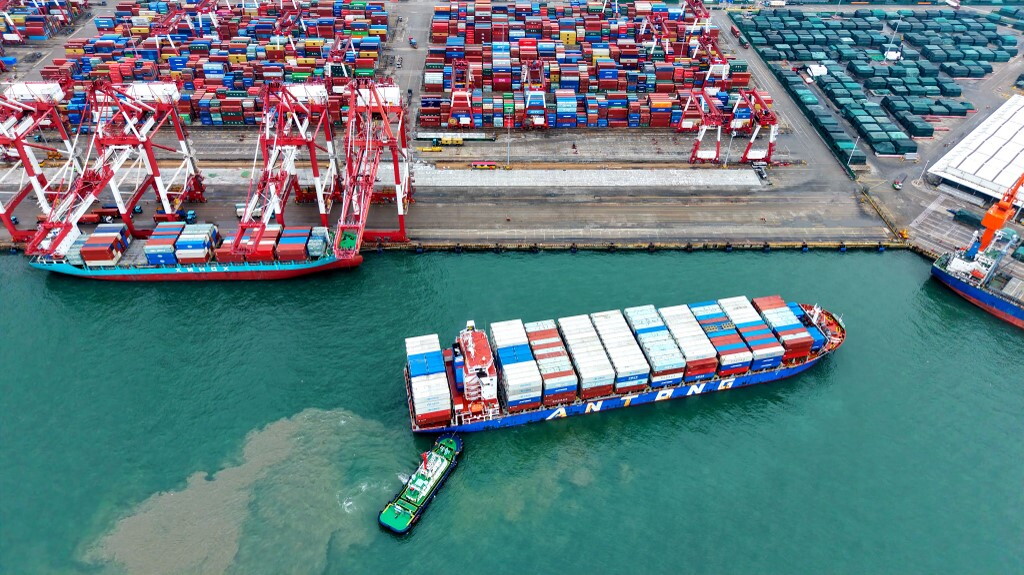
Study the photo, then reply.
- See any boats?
Yes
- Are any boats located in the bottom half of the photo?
Yes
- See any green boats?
Yes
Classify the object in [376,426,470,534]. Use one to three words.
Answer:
boat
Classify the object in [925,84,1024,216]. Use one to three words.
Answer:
building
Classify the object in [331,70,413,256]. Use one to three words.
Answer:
container crane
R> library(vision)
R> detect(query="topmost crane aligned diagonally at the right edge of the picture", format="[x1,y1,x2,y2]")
[957,161,1024,261]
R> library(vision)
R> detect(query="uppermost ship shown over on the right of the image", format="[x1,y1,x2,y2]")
[932,234,1024,330]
